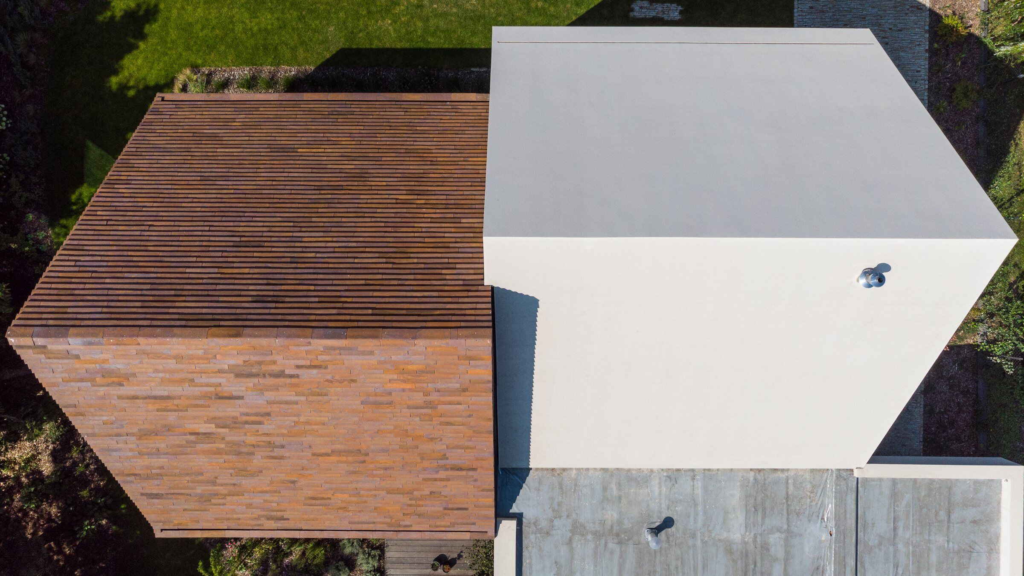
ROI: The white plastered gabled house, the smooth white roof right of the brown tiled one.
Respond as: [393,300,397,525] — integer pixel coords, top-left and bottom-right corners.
[483,27,1018,469]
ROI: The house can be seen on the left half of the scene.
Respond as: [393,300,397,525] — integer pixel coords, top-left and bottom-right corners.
[7,92,499,538]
